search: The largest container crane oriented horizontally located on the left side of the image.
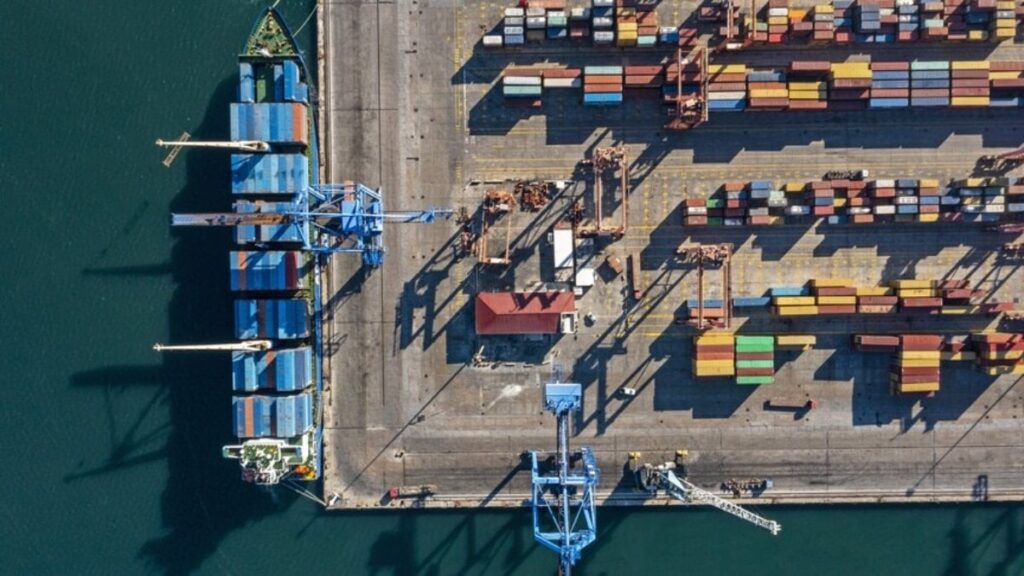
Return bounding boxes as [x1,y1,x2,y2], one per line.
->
[176,182,448,270]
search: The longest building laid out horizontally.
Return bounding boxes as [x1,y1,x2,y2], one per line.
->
[475,291,578,336]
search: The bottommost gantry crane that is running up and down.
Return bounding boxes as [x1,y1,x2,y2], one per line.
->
[521,362,600,576]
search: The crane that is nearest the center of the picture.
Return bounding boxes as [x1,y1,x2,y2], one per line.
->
[477,194,515,269]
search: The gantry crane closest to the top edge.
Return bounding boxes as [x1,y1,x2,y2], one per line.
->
[709,0,756,62]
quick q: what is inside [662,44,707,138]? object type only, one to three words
container crane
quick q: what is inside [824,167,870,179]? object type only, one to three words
vehicle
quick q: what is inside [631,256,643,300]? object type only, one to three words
vehicle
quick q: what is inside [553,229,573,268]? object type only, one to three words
shed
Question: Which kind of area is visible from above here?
port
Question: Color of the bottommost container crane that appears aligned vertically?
blue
